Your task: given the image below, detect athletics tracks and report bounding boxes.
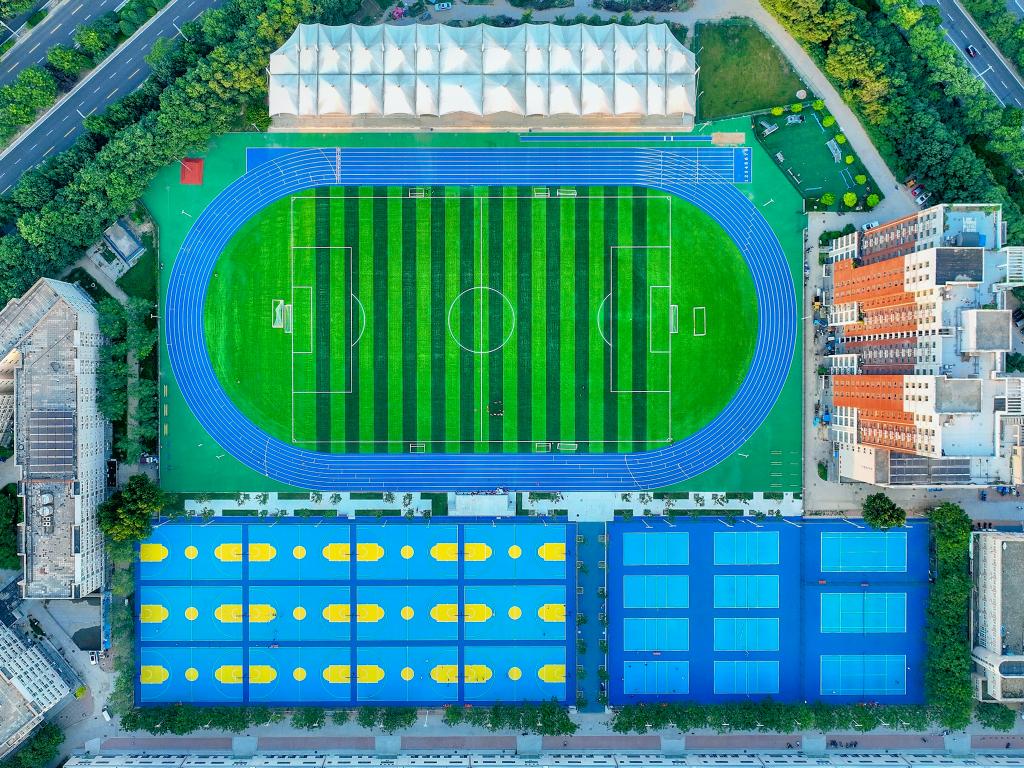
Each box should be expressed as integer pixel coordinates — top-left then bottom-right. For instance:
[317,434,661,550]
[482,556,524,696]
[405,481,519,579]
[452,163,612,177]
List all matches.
[165,147,797,491]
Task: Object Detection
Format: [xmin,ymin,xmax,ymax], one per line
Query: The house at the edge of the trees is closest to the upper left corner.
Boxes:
[103,222,150,264]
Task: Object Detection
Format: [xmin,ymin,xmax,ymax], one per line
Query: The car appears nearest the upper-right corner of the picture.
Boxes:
[965,42,980,58]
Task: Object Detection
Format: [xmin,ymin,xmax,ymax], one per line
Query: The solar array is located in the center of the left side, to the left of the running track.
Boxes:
[30,411,74,471]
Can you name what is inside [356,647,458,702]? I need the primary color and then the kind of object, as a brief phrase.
blue basketball court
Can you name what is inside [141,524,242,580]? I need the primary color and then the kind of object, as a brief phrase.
blue basketball court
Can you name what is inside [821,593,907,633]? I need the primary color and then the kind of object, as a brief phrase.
blue tennis court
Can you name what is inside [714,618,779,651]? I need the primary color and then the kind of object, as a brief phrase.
blue sports court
